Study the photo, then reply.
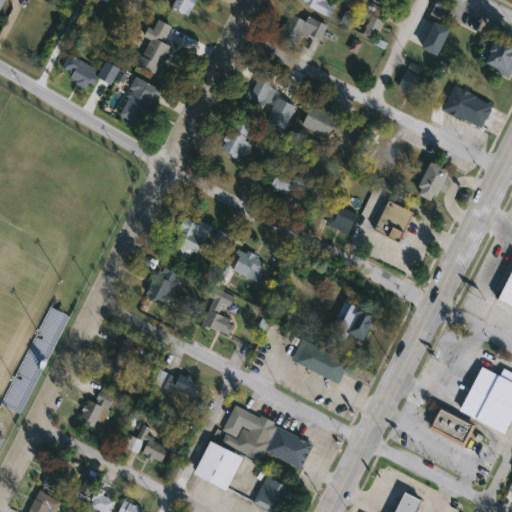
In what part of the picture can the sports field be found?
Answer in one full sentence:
Look in the left portion of the view to spot the sports field.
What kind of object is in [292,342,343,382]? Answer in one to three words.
building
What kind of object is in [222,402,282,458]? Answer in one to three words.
building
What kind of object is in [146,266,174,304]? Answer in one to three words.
house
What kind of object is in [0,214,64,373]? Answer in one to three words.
sports field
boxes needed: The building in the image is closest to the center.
[232,250,266,282]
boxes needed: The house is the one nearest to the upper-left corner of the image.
[62,53,99,89]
